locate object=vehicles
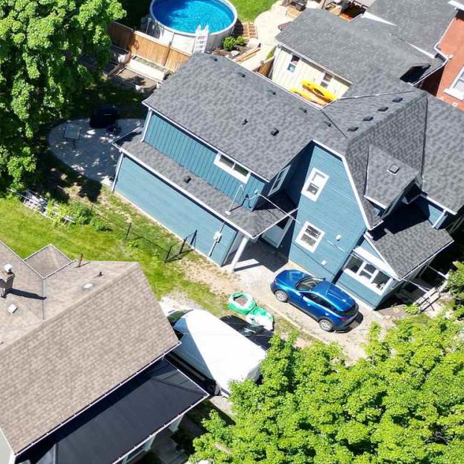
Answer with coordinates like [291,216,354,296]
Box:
[166,302,260,392]
[270,276,364,328]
